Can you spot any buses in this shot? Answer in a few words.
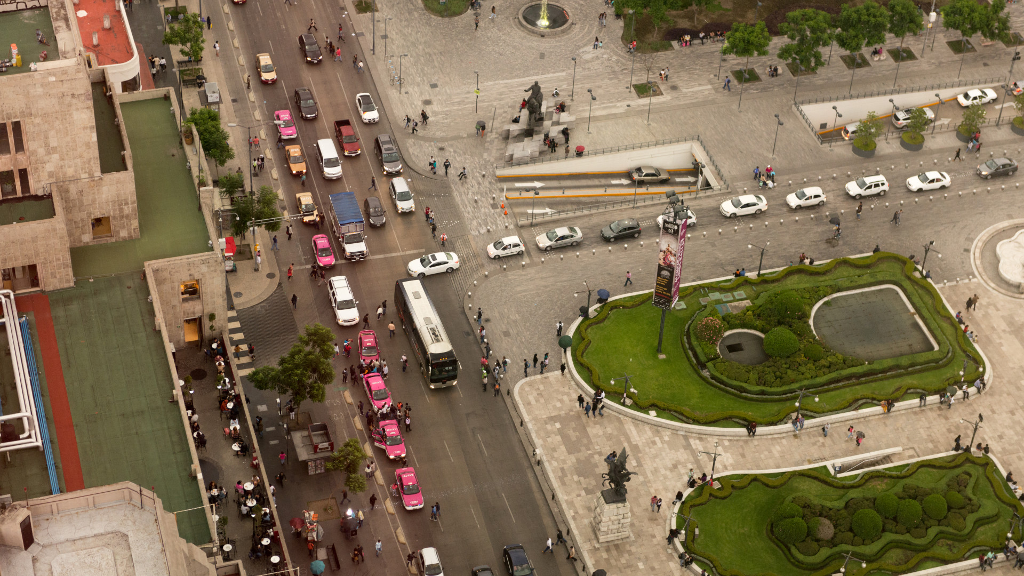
Yes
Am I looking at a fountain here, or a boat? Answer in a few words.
fountain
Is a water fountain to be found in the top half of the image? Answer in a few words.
Yes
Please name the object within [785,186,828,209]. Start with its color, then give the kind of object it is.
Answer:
white car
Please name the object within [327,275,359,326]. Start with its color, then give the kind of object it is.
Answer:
white car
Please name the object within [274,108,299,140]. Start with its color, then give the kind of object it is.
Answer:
pink car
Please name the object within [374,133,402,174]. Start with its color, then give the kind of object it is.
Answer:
gray vehicle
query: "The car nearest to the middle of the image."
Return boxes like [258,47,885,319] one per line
[484,234,529,260]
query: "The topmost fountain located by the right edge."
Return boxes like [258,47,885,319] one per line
[972,224,1024,296]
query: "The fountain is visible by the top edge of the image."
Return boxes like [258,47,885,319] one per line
[516,0,578,38]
